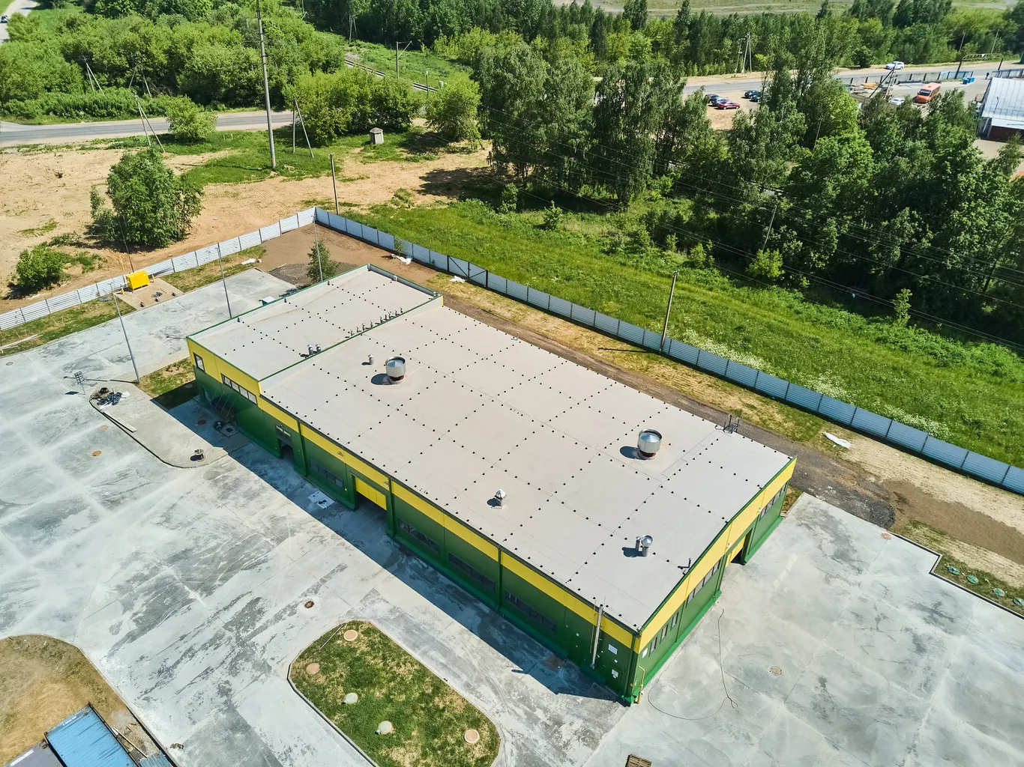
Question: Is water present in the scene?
No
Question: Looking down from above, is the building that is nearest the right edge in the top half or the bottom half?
top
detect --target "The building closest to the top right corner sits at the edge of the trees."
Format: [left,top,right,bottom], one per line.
[978,69,1024,142]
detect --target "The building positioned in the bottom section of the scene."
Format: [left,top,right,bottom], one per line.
[183,265,800,708]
